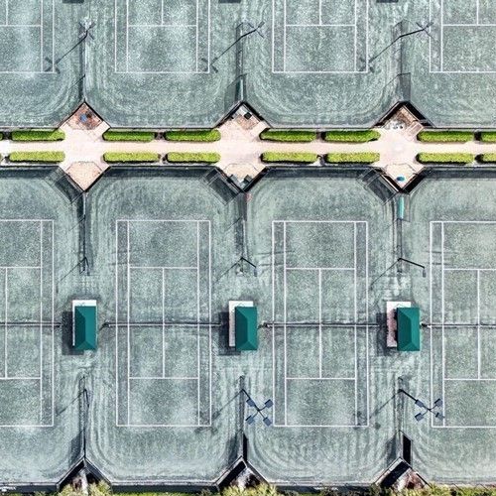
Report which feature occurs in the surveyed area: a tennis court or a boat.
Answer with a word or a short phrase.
tennis court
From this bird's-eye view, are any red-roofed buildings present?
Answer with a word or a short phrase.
No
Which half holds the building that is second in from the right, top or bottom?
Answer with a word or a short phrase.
bottom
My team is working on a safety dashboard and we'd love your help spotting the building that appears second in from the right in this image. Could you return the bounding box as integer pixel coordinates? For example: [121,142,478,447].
[230,302,256,351]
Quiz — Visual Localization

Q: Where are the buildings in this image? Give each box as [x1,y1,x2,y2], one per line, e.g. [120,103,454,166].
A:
[388,302,418,351]
[73,302,96,351]
[230,302,256,351]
